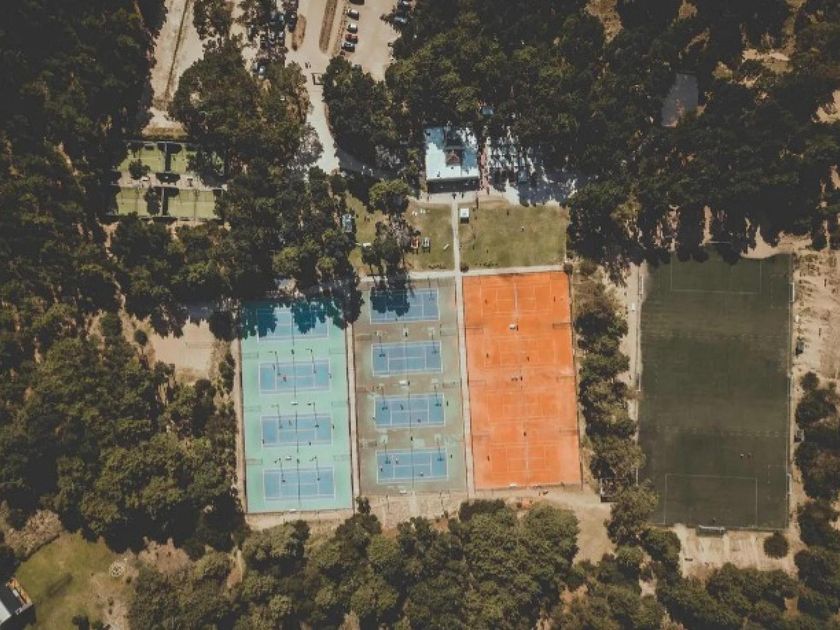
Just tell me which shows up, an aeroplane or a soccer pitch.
soccer pitch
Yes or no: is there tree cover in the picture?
Yes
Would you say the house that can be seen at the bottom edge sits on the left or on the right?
left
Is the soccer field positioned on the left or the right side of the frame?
right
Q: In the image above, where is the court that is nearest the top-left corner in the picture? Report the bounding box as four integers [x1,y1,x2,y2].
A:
[107,138,167,172]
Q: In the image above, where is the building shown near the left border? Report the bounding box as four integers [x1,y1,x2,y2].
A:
[0,578,34,627]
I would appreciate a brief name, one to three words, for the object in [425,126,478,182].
building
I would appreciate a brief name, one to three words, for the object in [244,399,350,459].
tennis court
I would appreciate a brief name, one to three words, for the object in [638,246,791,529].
soccer field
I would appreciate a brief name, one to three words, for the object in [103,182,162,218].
sports court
